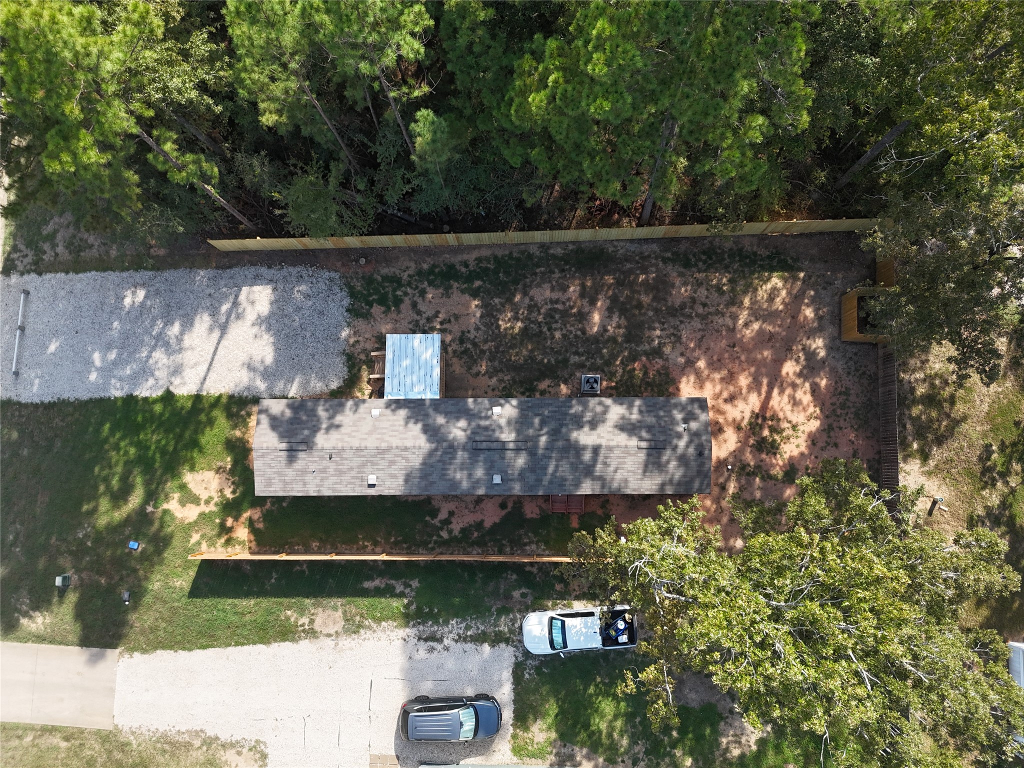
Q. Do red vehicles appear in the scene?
No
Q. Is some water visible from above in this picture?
No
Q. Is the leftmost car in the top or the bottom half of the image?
bottom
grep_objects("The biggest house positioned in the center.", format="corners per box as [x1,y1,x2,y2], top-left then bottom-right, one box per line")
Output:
[255,398,710,495]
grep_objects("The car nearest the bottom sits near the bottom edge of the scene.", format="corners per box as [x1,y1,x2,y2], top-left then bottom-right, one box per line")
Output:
[398,688,504,745]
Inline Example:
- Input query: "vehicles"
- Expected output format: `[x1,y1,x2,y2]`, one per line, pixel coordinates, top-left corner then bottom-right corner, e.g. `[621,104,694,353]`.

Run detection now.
[398,688,504,745]
[518,602,642,661]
